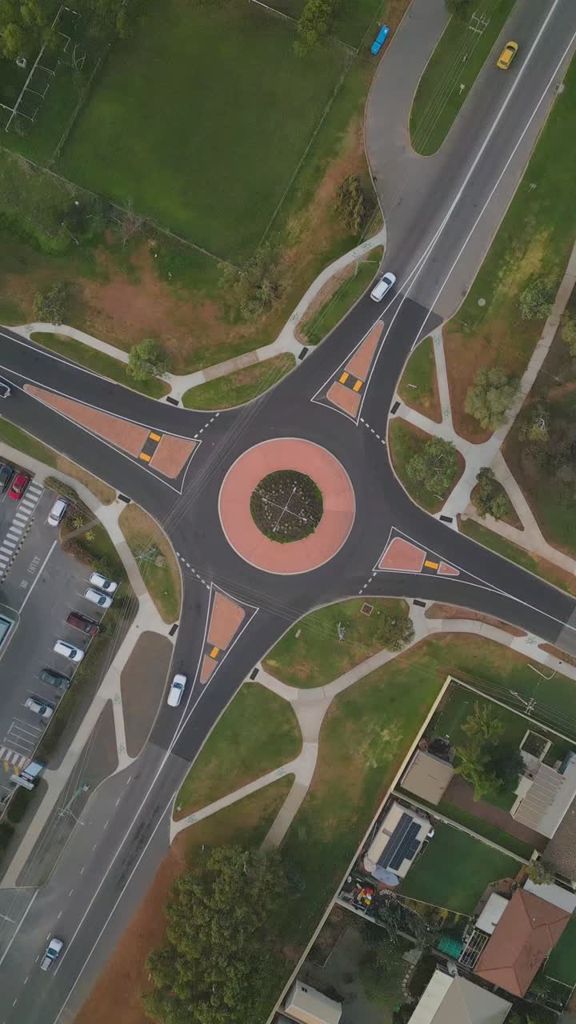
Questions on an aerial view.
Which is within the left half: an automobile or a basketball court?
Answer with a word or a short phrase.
automobile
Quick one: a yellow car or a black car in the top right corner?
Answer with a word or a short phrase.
yellow car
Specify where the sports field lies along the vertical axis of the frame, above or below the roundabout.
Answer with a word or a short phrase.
above it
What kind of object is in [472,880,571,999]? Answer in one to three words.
house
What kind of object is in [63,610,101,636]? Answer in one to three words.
truck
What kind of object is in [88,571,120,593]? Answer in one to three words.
car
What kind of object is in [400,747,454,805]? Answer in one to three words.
shed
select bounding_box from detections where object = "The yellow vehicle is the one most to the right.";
[495,40,519,73]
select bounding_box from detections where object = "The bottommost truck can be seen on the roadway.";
[37,934,63,974]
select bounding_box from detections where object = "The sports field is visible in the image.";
[52,0,357,262]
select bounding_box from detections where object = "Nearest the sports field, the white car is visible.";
[370,270,395,304]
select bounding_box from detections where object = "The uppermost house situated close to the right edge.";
[506,758,576,840]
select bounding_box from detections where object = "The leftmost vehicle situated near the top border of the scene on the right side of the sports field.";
[371,22,390,57]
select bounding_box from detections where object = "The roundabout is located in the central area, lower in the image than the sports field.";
[197,417,376,596]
